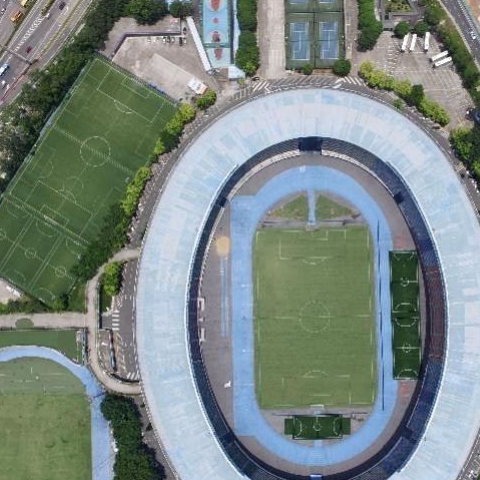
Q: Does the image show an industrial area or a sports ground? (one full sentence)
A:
This looks like a sports ground.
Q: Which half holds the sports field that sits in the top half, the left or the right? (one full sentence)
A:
You can find the sports field that sits in the top half on the left side of the picture.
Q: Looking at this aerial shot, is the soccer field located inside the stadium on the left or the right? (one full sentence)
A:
The soccer field located inside the stadium is on the right side of the image.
